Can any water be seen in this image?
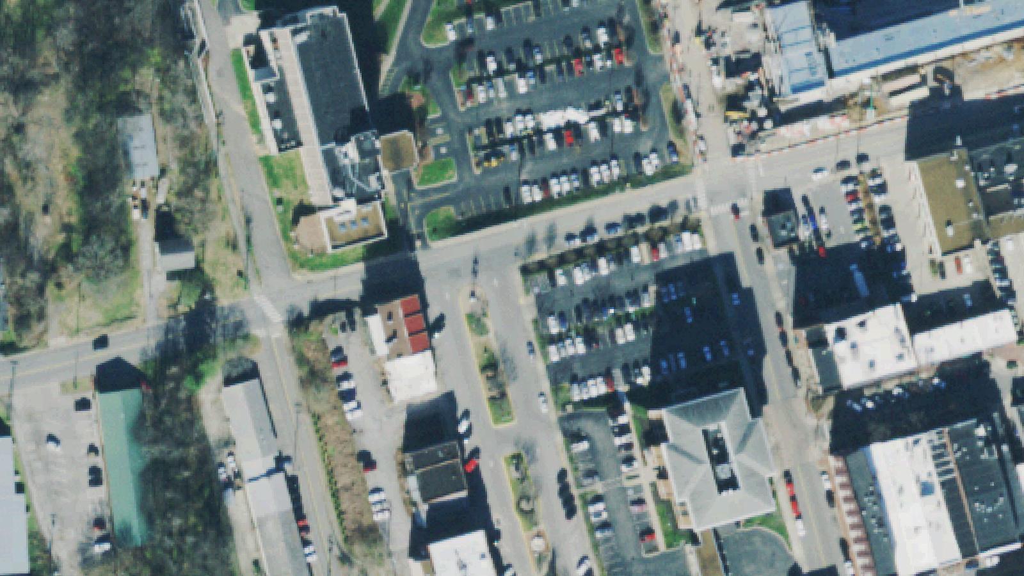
No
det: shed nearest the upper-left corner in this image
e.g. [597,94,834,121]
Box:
[118,115,158,179]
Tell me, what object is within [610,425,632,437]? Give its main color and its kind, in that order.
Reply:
black vehicle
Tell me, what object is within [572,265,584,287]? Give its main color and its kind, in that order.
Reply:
white vehicle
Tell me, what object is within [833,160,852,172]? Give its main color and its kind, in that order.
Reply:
gray vehicle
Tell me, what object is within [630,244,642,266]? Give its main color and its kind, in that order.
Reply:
white vehicle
